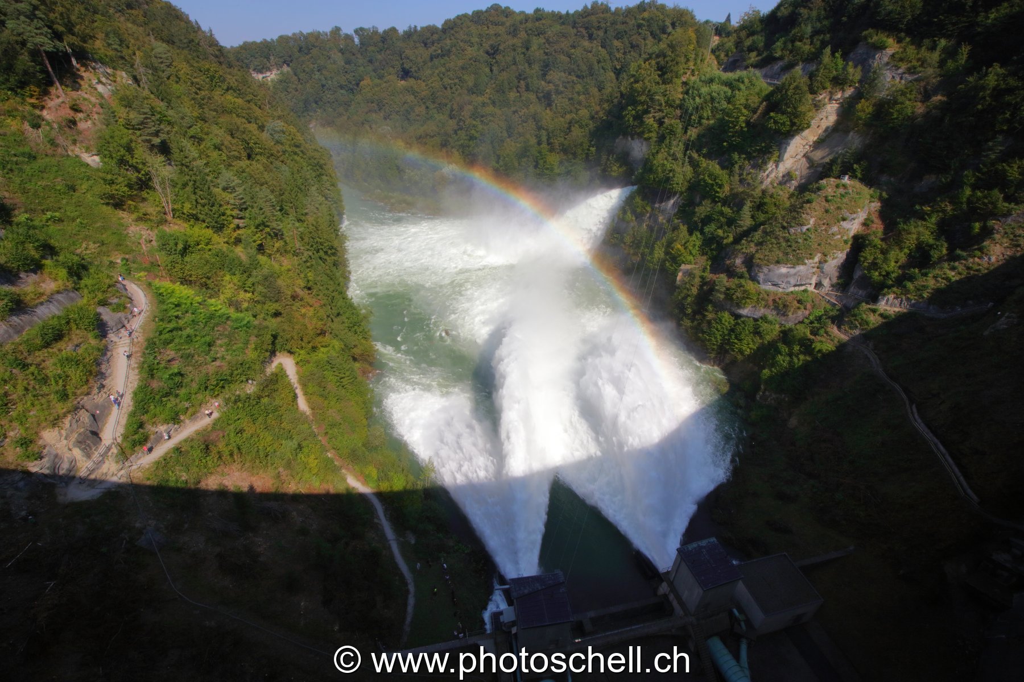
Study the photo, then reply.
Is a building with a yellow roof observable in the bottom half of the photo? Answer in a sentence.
No, no building with a yellow roof is visible in the bottom half of the photo.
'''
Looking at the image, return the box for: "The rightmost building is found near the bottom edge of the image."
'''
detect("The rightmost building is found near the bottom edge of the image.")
[728,552,824,650]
